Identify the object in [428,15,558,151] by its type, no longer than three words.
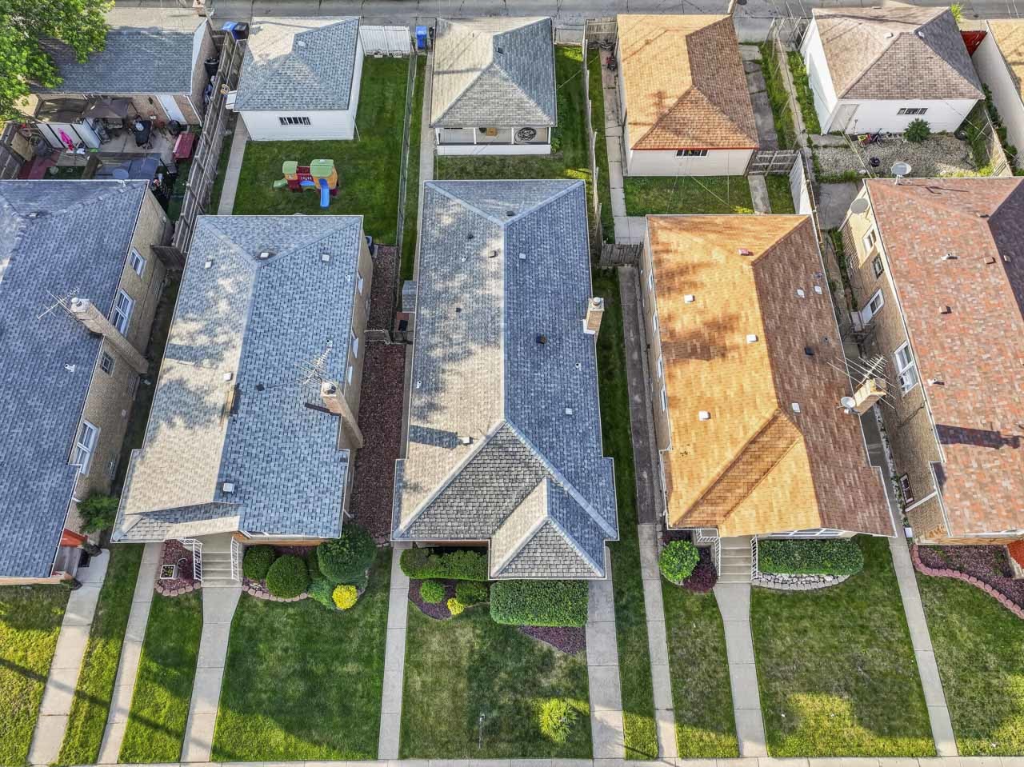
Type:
building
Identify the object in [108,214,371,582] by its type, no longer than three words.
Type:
house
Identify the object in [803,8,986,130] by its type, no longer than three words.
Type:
building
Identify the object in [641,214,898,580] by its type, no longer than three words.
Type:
house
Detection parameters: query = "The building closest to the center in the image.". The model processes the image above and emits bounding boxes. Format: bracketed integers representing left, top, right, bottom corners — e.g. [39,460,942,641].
[388,178,620,586]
